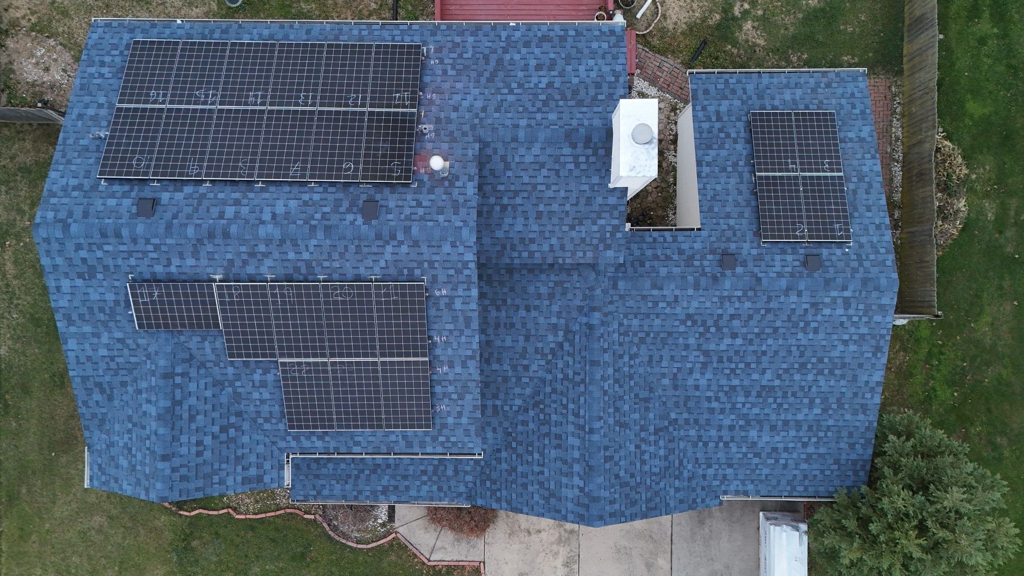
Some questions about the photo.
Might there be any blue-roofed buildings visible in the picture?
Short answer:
Yes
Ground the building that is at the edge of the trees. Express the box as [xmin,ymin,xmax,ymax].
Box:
[32,18,899,528]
